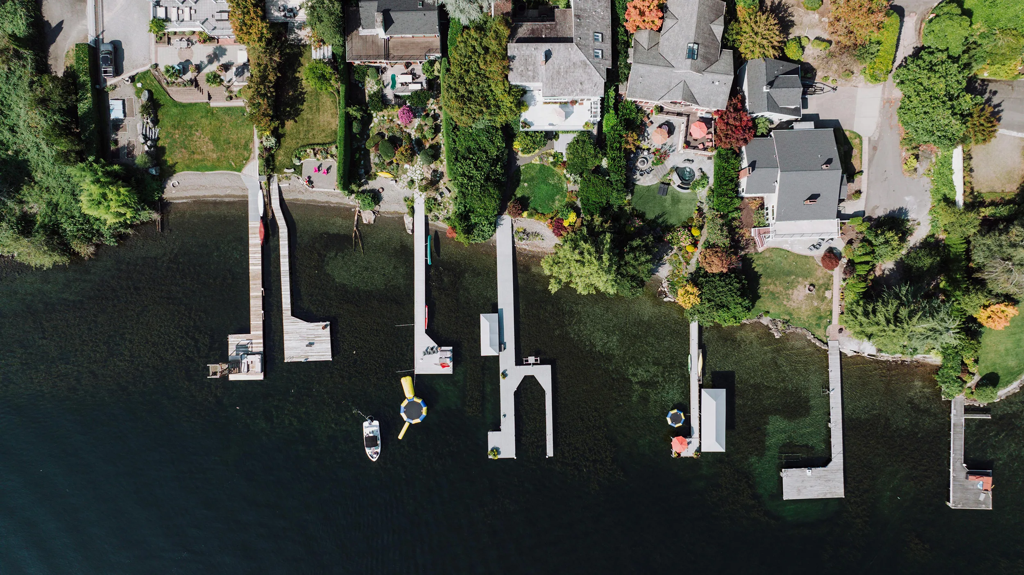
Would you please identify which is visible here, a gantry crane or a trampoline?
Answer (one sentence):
Looking from above, you can make out a trampoline.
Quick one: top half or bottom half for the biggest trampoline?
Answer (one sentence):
The bottom half of the photo is where the biggest trampoline is.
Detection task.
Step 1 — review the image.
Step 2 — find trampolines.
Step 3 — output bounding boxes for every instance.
[400,397,428,424]
[666,409,685,427]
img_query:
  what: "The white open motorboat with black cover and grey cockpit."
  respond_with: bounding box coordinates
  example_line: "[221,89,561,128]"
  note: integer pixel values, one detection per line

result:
[363,417,379,463]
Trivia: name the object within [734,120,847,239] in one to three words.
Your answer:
house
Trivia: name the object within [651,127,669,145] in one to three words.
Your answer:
umbrella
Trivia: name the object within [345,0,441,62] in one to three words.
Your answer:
house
